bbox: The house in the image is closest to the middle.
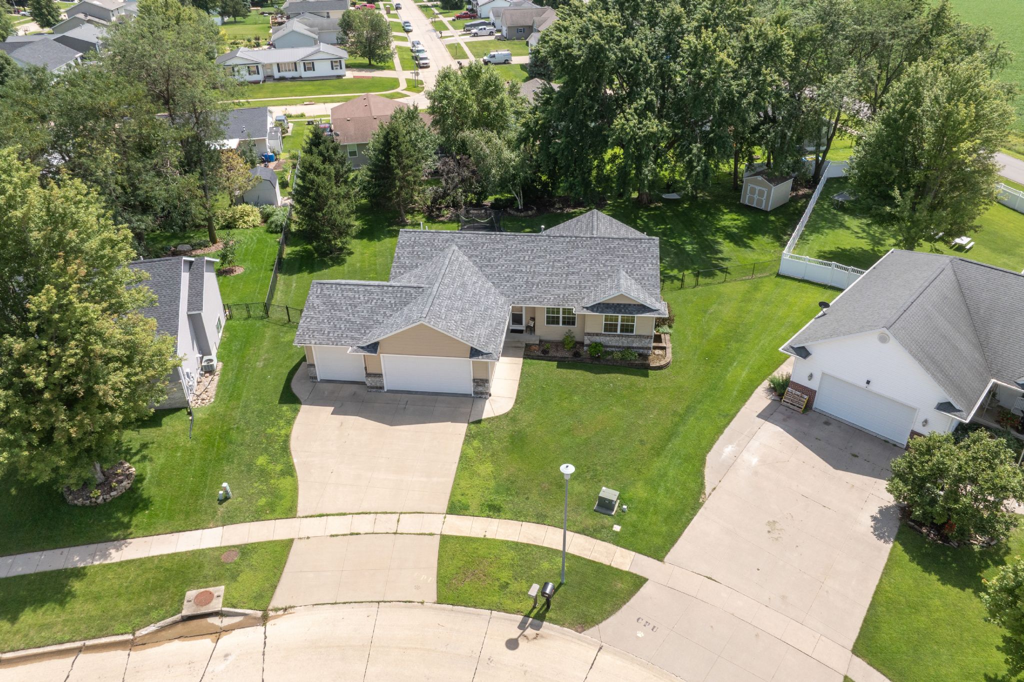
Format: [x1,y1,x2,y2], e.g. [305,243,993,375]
[291,208,670,397]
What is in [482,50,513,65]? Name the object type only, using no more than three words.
vehicle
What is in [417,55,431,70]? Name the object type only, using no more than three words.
car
